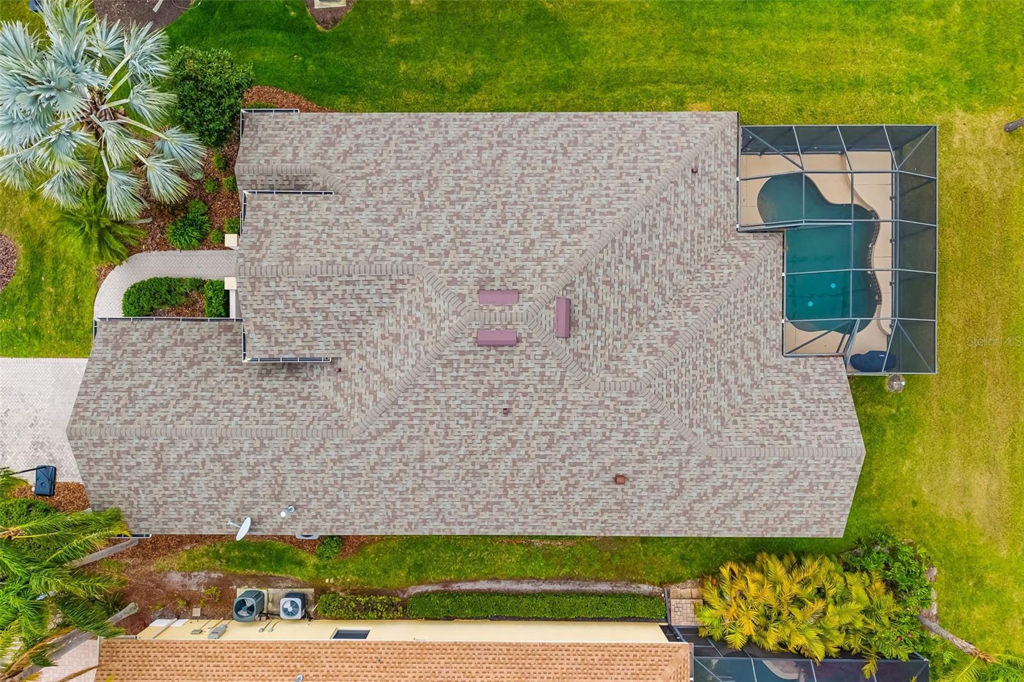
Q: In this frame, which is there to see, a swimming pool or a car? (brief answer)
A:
swimming pool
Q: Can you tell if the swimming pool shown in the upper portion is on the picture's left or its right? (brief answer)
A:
right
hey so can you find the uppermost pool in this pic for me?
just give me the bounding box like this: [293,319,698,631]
[758,172,882,334]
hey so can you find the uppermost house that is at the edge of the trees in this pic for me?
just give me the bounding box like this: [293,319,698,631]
[67,108,864,539]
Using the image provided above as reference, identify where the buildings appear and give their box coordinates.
[89,617,699,682]
[67,108,864,539]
